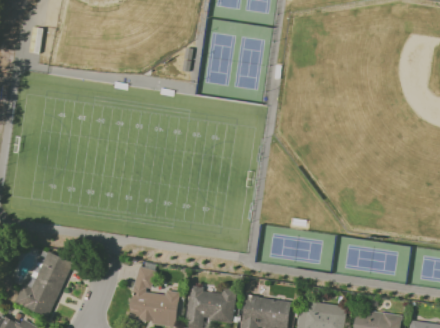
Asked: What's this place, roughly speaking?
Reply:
sports ground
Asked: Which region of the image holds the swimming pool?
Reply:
bottom left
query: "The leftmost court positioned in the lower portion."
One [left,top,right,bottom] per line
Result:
[257,224,337,273]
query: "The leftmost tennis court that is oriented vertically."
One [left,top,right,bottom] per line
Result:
[196,16,244,100]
